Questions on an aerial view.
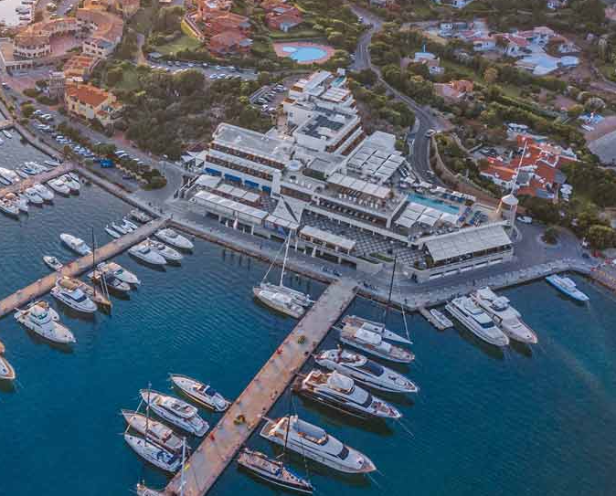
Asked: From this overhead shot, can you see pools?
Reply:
Yes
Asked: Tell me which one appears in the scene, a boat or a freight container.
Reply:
boat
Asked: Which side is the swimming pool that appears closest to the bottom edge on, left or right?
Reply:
right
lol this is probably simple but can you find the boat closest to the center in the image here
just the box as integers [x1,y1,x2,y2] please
[254,240,312,320]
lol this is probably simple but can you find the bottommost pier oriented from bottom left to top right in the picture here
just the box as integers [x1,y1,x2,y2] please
[165,280,361,496]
